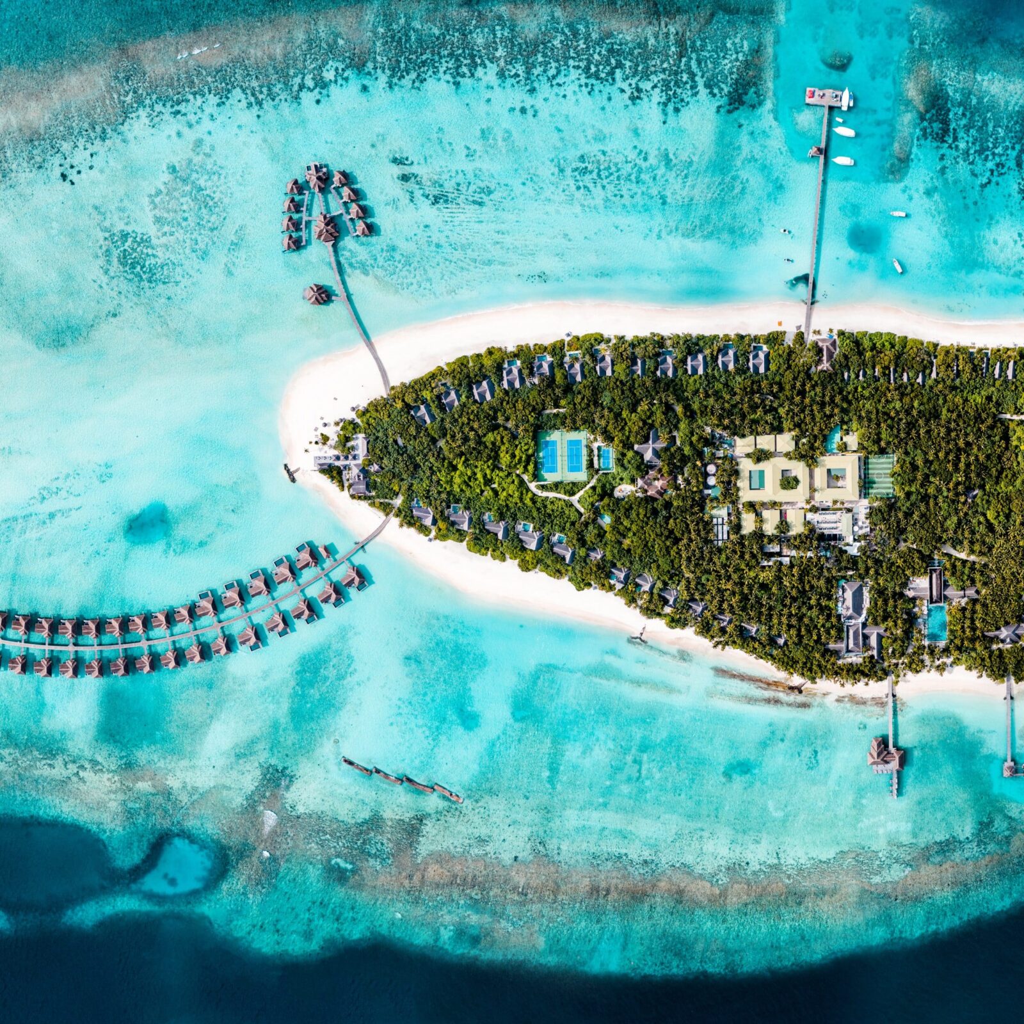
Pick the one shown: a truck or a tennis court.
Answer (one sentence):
There is a tennis court in the scene.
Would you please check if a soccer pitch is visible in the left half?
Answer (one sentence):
No, there's no soccer pitch to be seen in the left half.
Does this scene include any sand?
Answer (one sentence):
Yes, some sand is visible.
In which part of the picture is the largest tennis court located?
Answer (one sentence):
Look in the center portion of the view to spot the largest tennis court.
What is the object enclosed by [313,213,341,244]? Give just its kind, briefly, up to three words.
building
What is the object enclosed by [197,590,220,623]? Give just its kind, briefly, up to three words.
house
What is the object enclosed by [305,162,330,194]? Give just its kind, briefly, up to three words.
building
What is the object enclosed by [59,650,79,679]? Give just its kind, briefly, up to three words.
house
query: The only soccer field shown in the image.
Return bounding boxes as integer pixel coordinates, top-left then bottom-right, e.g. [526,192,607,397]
[863,454,896,498]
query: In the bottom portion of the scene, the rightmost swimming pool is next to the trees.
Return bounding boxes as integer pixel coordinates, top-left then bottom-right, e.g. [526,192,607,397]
[928,606,948,641]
